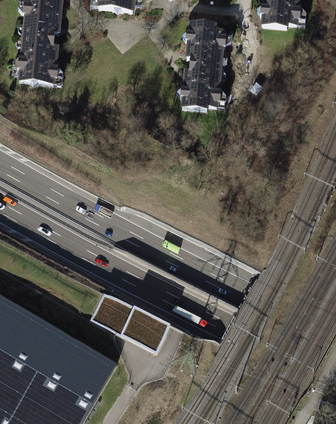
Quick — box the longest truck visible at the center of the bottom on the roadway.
[171,304,207,328]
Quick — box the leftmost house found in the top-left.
[14,0,66,84]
